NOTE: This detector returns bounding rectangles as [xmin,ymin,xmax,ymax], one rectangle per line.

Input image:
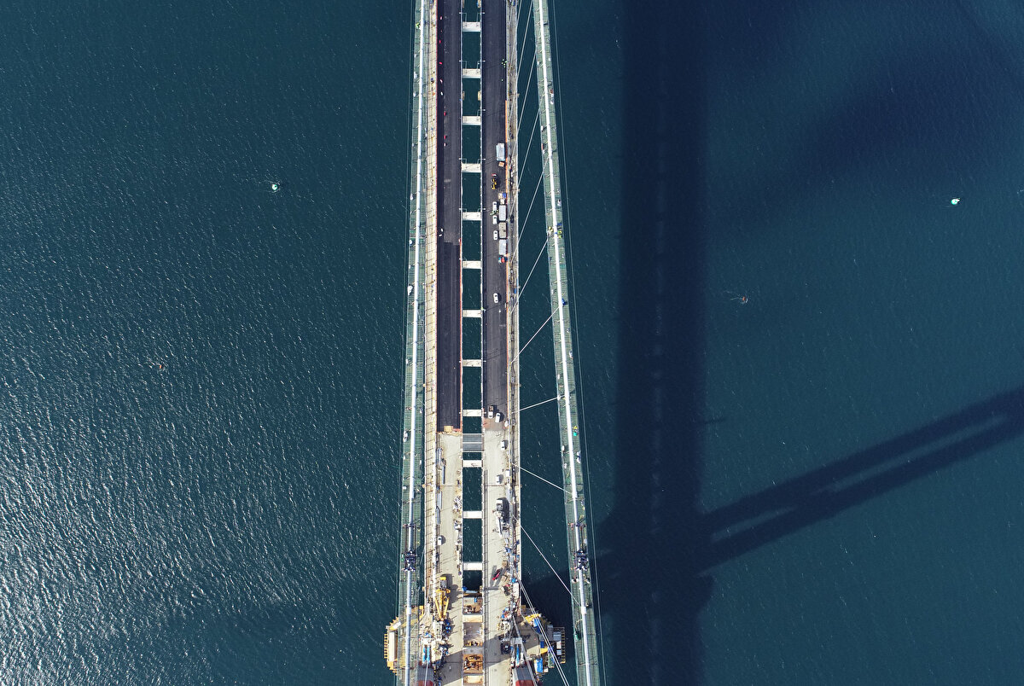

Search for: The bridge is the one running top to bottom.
[404,0,590,686]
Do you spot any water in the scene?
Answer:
Yes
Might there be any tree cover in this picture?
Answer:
No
